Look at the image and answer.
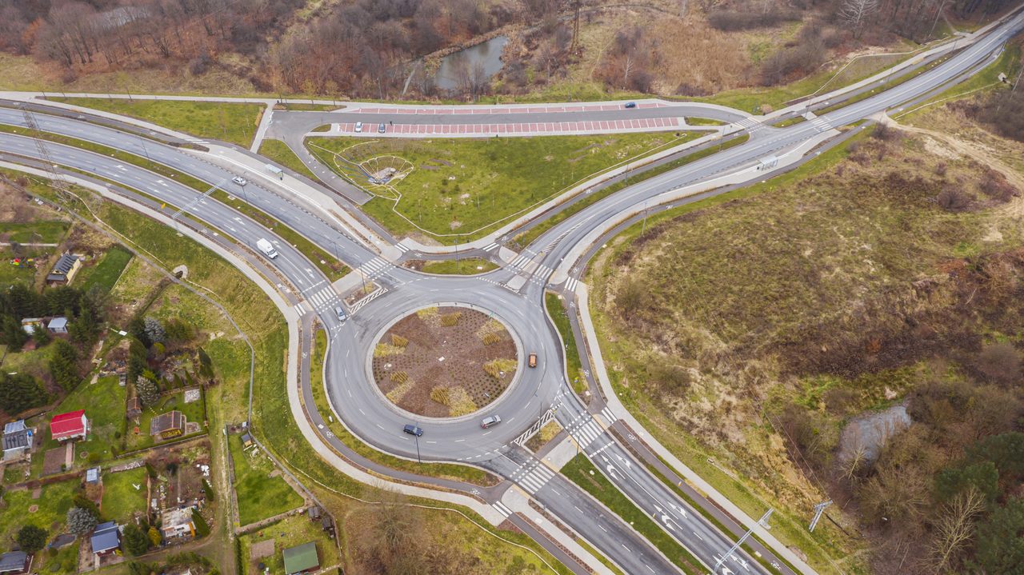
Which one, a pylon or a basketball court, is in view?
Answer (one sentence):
This aerial view contains a pylon.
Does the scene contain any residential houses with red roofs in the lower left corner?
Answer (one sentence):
Yes, a residential house with a red roof shows up in the lower left corner.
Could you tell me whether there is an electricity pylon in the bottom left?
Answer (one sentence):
No, in the bottom left there is no electricity pylon.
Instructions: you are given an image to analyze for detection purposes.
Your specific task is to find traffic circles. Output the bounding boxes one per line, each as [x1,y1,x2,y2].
[328,279,560,457]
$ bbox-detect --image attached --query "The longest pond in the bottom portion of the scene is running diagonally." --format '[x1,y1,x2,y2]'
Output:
[829,404,915,475]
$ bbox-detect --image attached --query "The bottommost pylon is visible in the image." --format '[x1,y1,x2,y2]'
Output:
[10,110,71,201]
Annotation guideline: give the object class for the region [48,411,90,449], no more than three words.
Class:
house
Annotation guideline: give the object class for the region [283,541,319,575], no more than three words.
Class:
building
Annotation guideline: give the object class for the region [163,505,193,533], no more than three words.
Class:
shed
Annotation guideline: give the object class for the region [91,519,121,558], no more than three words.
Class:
house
